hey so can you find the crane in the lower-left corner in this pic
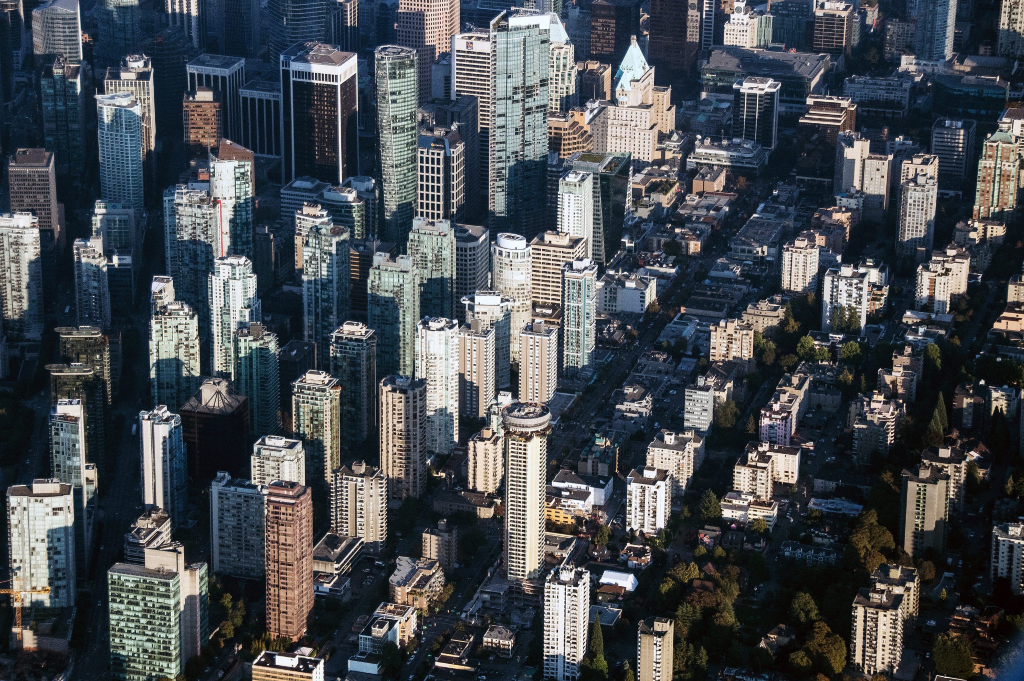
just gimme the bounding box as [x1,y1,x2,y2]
[0,578,52,656]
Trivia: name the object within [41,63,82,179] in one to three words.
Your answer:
building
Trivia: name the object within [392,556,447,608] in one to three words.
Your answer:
building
